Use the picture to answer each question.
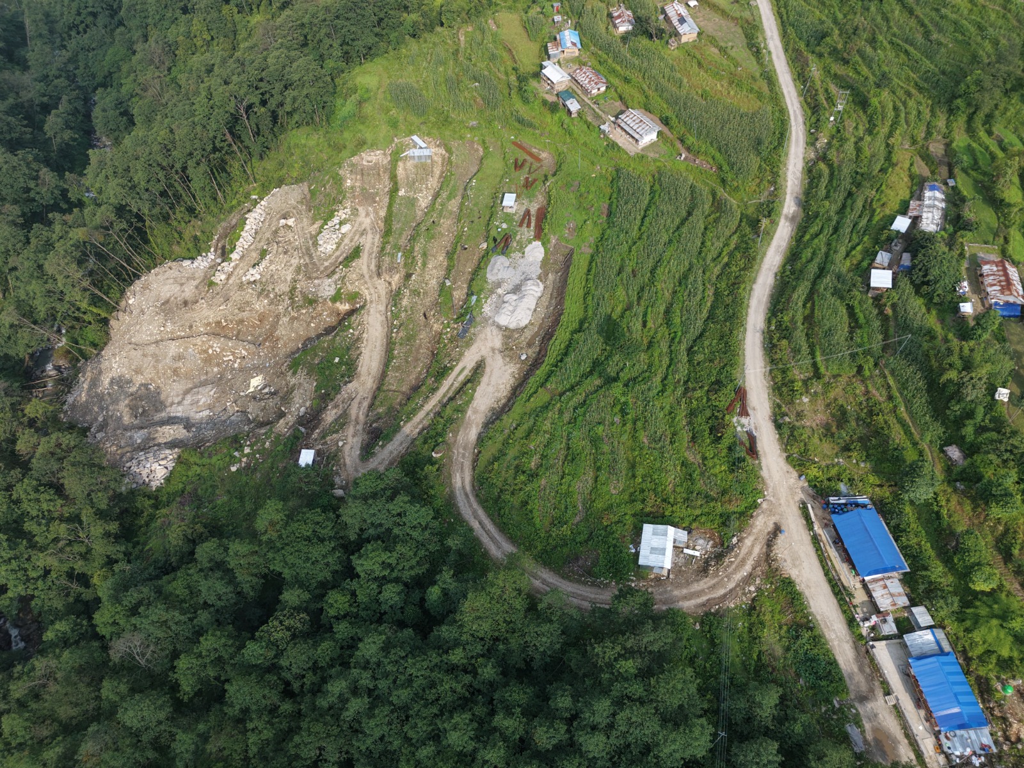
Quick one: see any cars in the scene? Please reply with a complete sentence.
No, there appears to be no car in this shot.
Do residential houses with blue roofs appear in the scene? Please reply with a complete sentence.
Yes, a residential house with a blue roof is visible in the scene.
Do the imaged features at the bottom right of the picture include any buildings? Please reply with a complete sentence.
Yes, at the bottom right of the picture there is a building.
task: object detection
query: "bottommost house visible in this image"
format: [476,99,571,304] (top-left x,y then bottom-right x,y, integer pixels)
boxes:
[903,656,985,737]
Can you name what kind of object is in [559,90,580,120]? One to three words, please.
shed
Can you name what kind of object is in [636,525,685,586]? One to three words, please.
shed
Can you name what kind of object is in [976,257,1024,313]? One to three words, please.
house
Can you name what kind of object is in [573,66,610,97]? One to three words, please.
house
